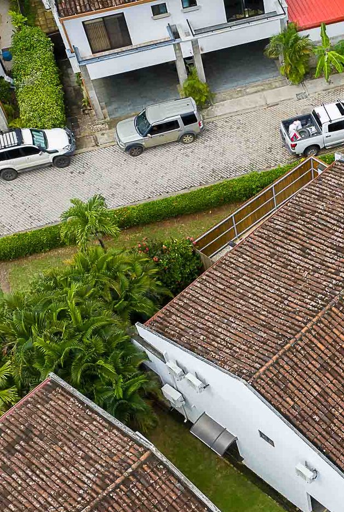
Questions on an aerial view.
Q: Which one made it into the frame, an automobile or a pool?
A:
automobile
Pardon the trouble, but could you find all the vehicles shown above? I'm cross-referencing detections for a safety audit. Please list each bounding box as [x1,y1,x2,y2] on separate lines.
[0,125,79,183]
[278,95,344,155]
[111,93,205,158]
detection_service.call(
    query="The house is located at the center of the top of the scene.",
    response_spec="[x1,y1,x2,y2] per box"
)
[53,0,288,115]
